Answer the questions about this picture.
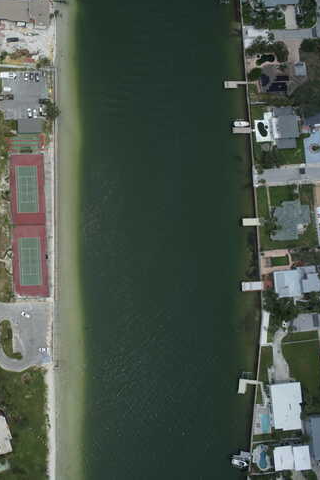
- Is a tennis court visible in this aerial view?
Yes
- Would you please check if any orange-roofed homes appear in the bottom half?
No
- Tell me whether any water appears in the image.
Yes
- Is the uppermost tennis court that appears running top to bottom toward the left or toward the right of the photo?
left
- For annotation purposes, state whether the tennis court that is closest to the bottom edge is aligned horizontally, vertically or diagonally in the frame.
vertically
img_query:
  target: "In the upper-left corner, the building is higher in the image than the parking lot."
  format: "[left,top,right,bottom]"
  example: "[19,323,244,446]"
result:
[0,0,50,30]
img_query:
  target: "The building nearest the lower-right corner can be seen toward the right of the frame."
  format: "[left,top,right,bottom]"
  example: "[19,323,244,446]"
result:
[292,445,311,471]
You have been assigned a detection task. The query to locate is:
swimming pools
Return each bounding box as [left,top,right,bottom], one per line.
[259,451,267,470]
[261,414,270,434]
[256,54,274,66]
[258,122,269,137]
